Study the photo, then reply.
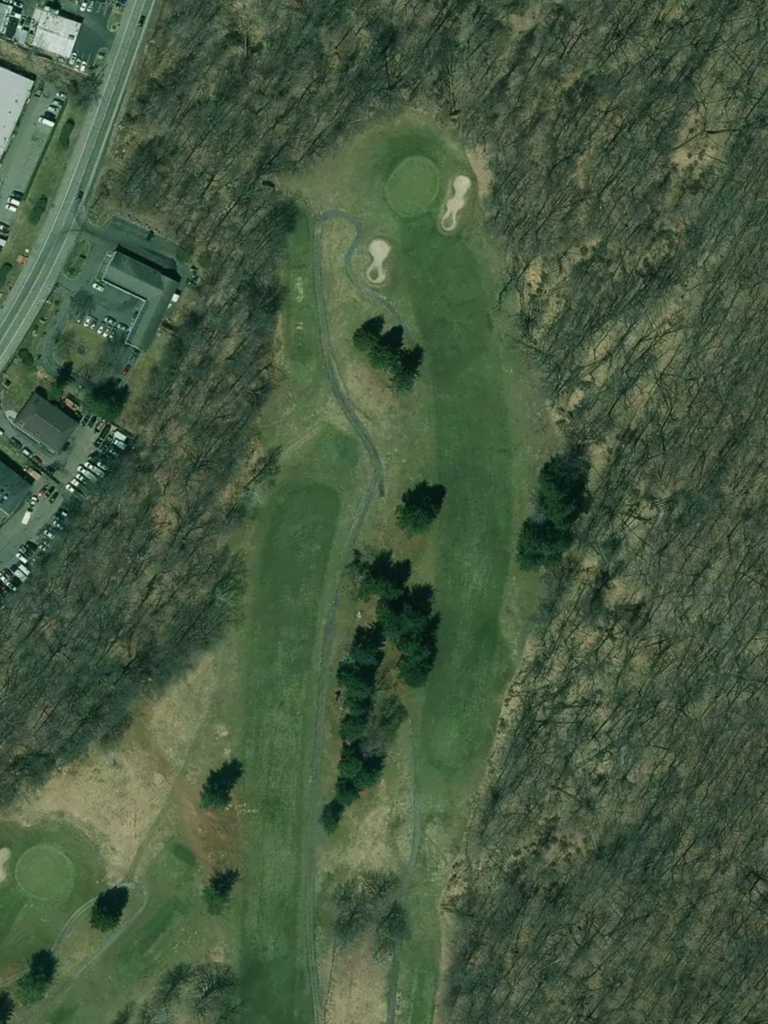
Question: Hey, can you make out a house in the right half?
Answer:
No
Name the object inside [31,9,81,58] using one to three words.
building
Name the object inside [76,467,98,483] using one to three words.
vehicle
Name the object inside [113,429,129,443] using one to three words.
vehicle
